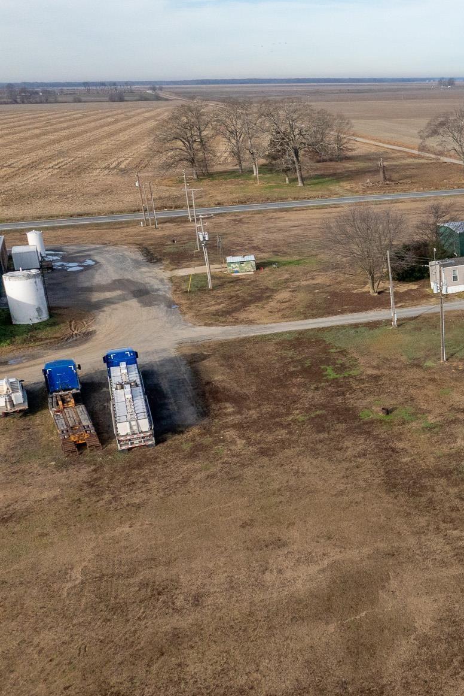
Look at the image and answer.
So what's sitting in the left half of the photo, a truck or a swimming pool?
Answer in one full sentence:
Visible in the left half of the photo is a truck.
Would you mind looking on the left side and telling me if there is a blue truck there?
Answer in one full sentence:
Yes, there is a blue truck on the left side.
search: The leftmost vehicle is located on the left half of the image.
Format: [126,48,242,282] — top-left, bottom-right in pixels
[0,375,32,419]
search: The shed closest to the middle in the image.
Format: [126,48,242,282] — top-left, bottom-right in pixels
[224,252,258,274]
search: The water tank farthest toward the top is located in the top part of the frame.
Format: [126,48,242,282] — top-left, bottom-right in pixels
[26,229,56,262]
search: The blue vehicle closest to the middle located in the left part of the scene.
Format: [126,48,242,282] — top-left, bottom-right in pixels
[103,351,144,385]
